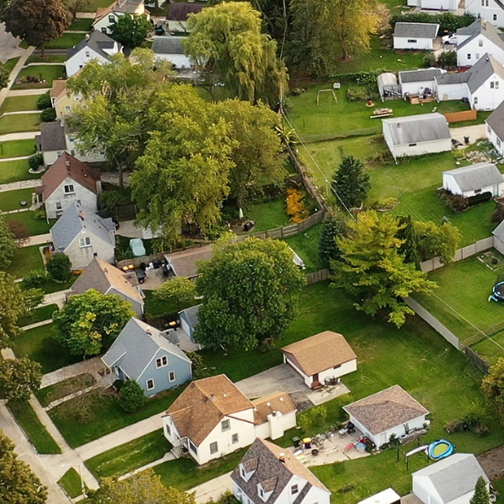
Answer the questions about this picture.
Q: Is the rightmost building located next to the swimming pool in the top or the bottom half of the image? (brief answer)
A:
bottom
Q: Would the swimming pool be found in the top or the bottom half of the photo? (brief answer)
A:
bottom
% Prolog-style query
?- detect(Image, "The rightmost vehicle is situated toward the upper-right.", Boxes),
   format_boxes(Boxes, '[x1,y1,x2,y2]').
[435,31,457,46]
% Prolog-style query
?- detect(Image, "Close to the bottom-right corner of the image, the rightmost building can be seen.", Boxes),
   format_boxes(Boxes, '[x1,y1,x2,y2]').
[411,452,491,504]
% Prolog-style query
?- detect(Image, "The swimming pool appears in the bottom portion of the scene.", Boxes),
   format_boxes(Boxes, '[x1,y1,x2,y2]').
[428,438,459,459]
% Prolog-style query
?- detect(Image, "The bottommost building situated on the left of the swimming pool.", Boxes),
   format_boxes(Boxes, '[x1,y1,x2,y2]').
[234,436,334,504]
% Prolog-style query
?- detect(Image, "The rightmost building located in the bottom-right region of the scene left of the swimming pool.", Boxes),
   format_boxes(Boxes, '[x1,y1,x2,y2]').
[343,385,429,450]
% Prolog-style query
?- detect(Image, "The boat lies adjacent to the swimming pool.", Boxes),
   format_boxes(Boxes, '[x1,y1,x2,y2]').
[400,442,432,457]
